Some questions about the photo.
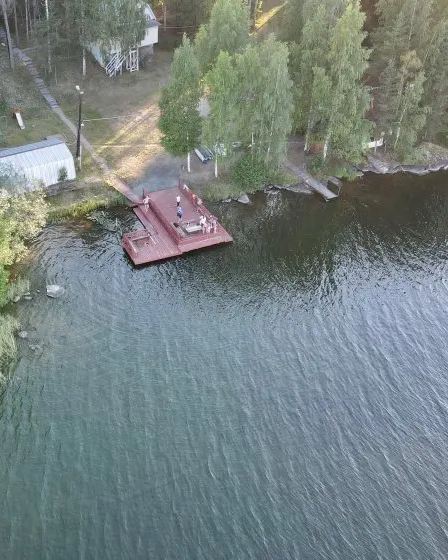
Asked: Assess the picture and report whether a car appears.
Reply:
No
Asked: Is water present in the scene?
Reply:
Yes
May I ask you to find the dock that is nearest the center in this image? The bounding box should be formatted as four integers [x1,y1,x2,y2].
[123,173,233,268]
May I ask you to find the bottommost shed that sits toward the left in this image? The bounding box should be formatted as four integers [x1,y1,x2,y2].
[0,136,77,187]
